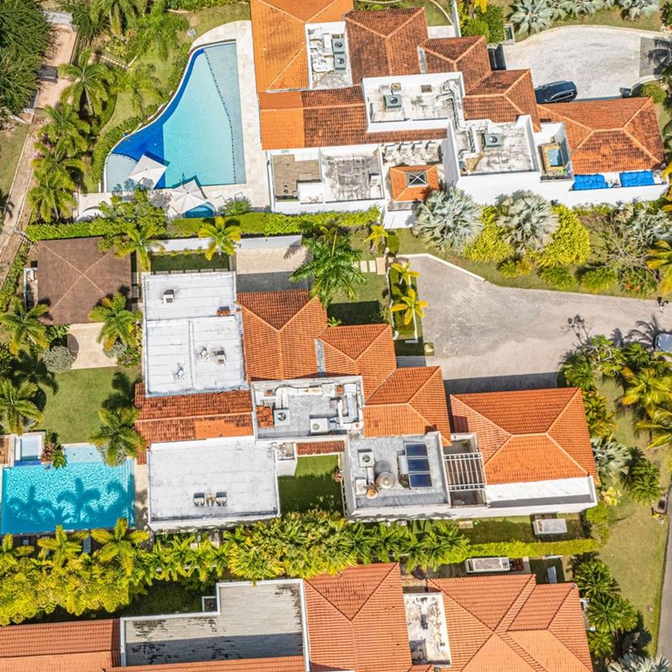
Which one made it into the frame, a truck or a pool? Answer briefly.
pool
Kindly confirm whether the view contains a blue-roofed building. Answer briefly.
No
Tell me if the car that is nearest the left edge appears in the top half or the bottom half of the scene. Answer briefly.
top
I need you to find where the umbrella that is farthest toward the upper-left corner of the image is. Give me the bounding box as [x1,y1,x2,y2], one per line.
[127,159,168,192]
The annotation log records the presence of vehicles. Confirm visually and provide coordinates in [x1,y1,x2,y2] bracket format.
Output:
[651,332,672,357]
[534,80,581,104]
